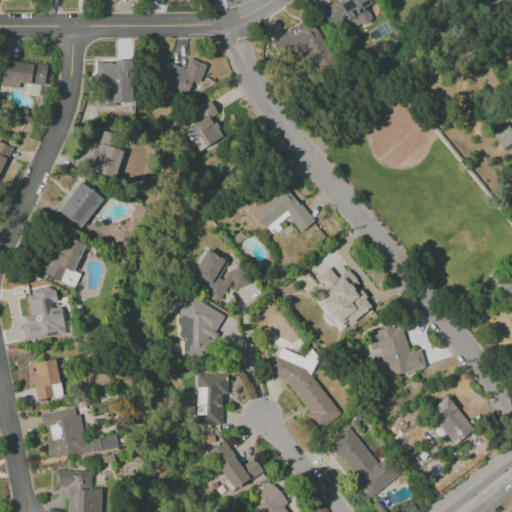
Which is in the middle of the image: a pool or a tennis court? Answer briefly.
pool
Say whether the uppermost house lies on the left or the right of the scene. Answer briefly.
right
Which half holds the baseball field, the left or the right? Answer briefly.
right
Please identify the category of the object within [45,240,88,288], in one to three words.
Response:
house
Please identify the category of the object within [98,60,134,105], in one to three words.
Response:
house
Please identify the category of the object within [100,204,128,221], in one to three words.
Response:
swimming pool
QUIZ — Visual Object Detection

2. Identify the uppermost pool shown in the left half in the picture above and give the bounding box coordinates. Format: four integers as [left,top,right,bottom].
[10,90,32,108]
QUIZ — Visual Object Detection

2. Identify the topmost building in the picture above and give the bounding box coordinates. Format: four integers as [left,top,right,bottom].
[326,0,377,28]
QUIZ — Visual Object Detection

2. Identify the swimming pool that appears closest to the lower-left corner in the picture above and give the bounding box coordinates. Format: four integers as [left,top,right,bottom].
[86,260,102,289]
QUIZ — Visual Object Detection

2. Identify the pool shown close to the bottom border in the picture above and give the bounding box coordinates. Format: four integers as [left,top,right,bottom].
[386,486,412,504]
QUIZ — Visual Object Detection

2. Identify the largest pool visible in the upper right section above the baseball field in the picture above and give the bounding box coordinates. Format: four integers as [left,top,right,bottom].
[370,22,392,41]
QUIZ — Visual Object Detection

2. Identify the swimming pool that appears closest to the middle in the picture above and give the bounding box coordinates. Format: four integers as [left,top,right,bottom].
[244,235,267,261]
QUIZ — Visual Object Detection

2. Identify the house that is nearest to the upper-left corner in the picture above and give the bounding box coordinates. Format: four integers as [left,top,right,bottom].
[2,62,48,96]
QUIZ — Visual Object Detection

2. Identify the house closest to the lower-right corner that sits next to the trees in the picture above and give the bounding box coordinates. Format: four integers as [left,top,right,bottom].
[440,396,472,444]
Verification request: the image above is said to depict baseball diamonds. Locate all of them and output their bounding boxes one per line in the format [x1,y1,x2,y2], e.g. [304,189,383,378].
[322,104,512,290]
